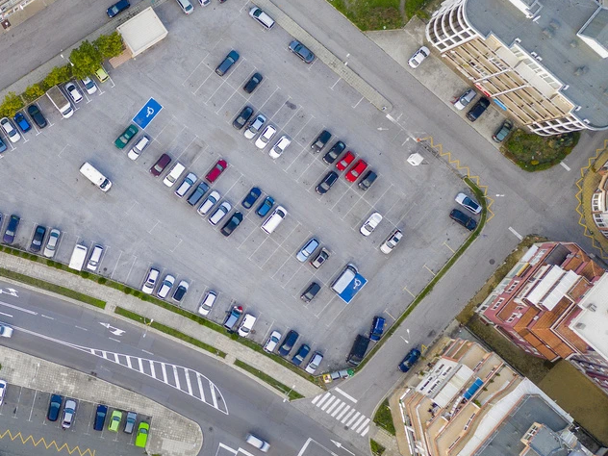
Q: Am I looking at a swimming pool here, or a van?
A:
van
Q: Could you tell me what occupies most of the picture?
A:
paved ground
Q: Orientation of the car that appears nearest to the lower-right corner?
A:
diagonally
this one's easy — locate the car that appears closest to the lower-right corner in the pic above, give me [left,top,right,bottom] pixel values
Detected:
[396,347,421,374]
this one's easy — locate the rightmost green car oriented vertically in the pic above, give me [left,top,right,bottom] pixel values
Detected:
[134,421,149,447]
